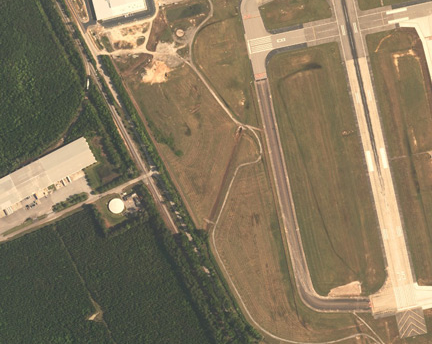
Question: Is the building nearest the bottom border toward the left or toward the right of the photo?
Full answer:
It is on the left.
